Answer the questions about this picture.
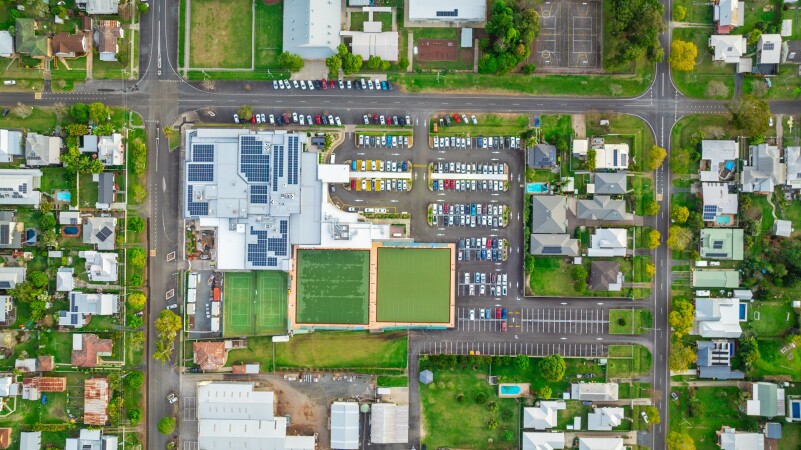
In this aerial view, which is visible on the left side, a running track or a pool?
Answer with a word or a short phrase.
pool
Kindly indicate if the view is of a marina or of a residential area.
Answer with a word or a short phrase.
residential area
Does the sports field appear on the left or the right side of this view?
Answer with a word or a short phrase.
left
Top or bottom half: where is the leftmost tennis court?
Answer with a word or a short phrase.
bottom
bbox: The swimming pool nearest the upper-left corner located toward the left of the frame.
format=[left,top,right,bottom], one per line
[52,189,71,209]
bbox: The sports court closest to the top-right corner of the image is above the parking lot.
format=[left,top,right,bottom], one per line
[564,0,602,67]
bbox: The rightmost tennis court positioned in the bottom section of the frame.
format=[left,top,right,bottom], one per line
[256,272,288,337]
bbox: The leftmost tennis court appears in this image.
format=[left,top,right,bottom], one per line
[224,272,256,337]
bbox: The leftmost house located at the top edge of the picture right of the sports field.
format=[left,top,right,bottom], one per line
[283,0,342,61]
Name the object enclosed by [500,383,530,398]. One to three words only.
swimming pool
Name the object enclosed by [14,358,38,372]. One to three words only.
shed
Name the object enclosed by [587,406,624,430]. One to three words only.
house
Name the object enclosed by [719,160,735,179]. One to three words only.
swimming pool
